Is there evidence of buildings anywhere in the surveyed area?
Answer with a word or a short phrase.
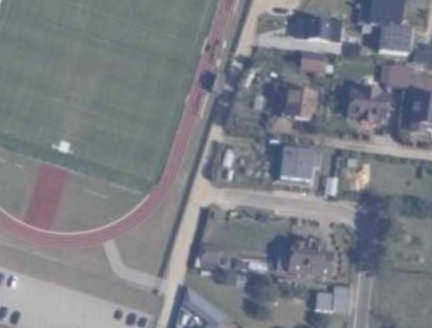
Yes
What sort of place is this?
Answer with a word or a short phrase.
sports ground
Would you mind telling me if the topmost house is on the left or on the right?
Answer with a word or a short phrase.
right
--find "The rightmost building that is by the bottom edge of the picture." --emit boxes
[333,286,351,315]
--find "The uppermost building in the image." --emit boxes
[369,0,405,25]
